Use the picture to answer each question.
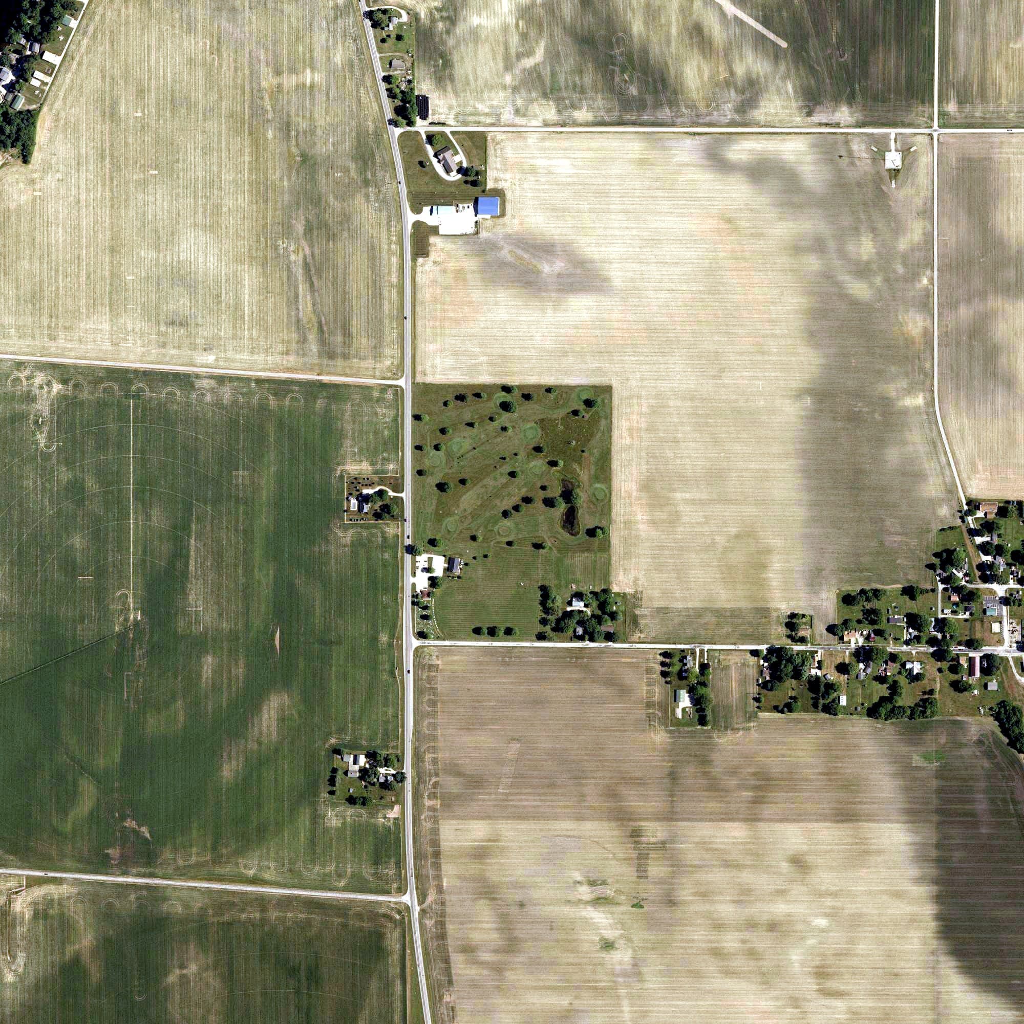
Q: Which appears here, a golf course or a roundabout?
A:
golf course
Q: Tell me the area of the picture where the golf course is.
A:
center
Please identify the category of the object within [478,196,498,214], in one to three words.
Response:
building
